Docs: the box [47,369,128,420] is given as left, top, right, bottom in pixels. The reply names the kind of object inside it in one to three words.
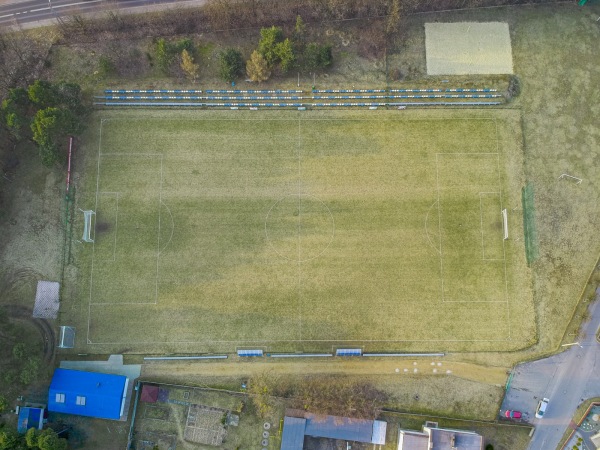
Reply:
building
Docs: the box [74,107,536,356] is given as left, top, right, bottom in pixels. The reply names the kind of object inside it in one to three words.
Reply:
soccer field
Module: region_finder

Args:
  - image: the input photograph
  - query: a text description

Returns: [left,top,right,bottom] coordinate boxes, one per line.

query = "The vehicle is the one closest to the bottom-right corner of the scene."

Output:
[534,398,549,418]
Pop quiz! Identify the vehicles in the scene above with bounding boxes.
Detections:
[504,409,522,418]
[534,398,549,418]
